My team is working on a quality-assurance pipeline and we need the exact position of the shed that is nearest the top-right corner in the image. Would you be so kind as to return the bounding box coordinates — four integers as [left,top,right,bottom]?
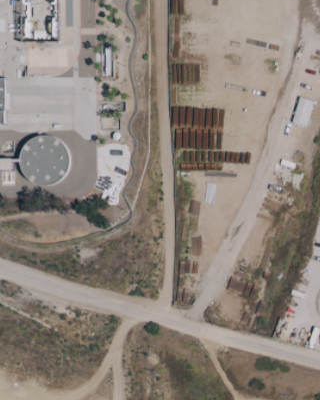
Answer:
[293,97,316,126]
